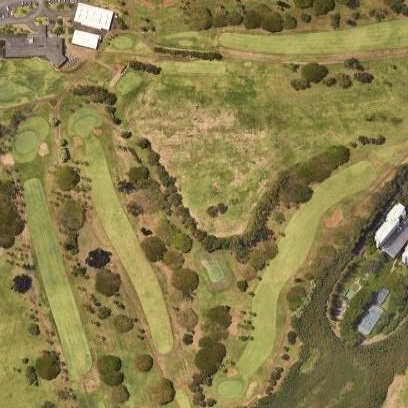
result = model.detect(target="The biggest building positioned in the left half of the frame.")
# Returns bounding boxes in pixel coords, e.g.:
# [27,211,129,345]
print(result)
[5,26,67,66]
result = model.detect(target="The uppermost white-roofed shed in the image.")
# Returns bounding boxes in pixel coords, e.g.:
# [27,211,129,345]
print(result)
[73,2,113,30]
